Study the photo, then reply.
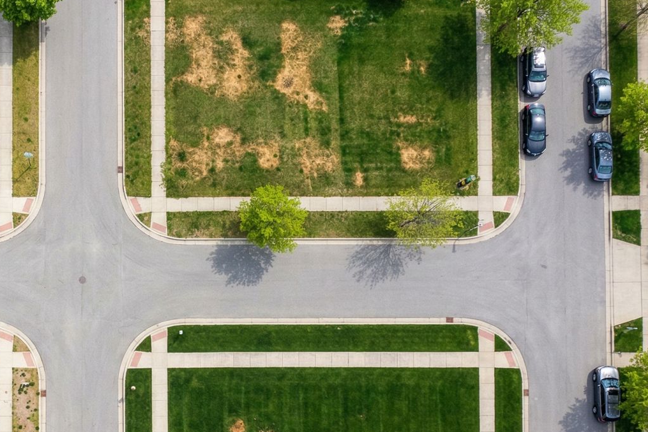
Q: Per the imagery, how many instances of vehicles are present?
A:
5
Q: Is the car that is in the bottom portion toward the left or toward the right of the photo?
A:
right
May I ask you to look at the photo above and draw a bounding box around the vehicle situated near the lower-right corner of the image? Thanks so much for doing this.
[588,366,621,421]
